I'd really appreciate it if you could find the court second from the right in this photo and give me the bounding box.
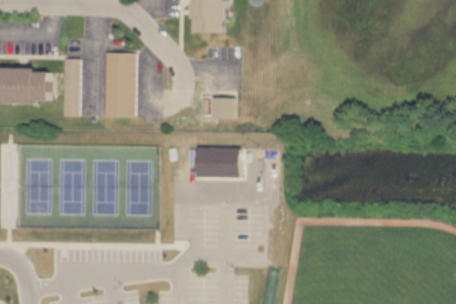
[92,159,120,215]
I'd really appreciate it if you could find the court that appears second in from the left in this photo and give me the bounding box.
[60,158,86,214]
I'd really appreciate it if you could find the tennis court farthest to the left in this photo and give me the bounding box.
[26,158,52,214]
